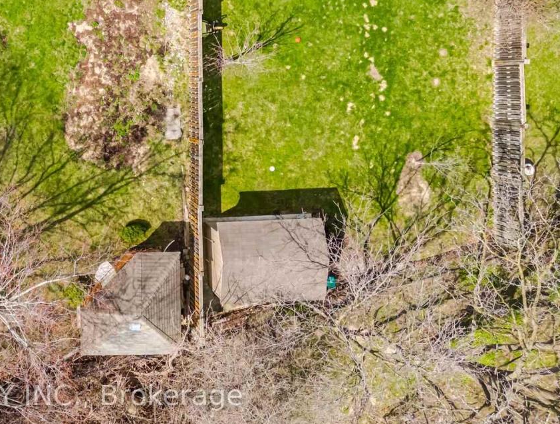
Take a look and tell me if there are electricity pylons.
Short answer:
No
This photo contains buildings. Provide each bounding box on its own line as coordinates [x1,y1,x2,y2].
[207,217,326,310]
[79,244,182,357]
